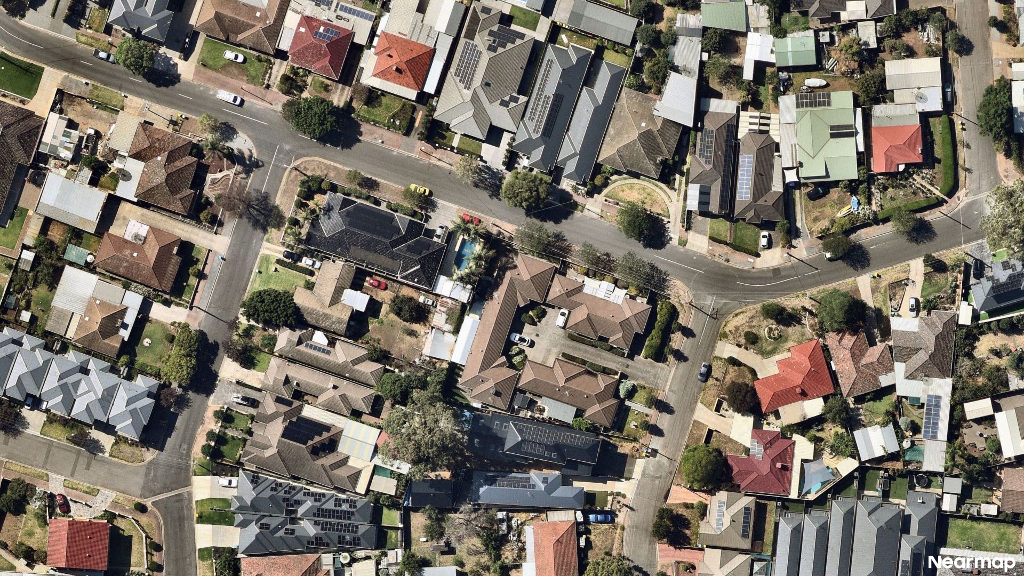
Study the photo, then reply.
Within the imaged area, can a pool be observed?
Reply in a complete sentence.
Yes, the photo shows a pool.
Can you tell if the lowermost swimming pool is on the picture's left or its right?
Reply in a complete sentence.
You can find the lowermost swimming pool on the right side of the picture.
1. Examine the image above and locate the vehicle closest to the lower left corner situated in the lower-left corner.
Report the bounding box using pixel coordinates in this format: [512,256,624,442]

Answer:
[56,491,70,515]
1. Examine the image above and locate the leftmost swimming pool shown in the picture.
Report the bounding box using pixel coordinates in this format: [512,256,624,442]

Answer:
[454,237,477,271]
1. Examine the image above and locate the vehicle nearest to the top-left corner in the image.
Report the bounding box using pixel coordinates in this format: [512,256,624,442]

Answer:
[92,49,115,63]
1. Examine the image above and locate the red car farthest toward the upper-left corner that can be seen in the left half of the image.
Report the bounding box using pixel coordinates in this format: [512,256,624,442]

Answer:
[366,277,388,290]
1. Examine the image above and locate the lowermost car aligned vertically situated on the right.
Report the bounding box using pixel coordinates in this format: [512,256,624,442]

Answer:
[698,361,710,384]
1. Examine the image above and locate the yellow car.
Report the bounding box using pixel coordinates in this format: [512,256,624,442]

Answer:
[408,183,430,197]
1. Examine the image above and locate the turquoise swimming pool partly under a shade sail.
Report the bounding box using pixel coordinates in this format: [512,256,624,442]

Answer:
[799,466,836,497]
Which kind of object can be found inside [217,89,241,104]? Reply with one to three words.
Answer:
vehicle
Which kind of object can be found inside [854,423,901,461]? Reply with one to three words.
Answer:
shed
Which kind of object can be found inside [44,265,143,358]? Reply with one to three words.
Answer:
house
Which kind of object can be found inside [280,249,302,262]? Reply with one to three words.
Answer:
vehicle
